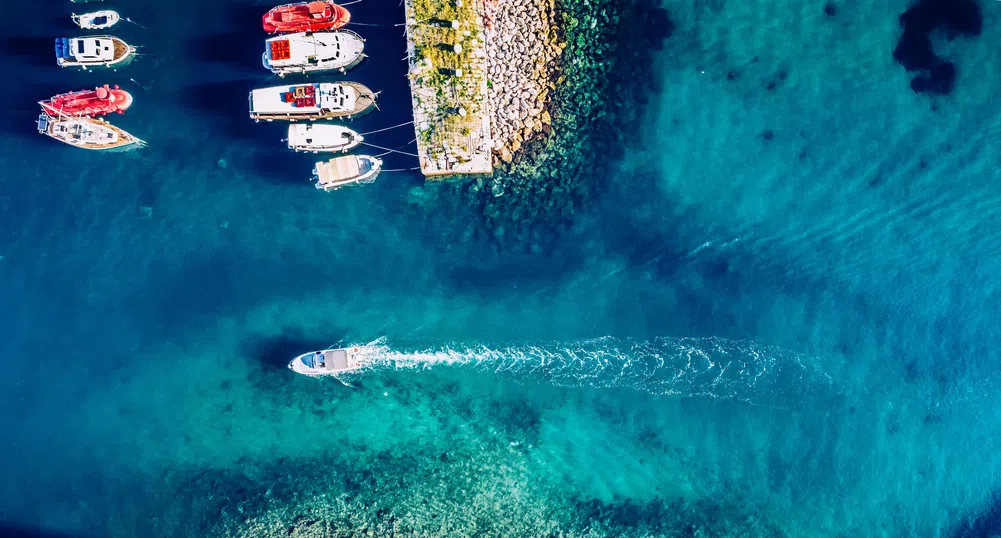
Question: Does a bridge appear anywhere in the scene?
No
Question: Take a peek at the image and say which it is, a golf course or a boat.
boat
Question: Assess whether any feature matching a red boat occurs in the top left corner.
Yes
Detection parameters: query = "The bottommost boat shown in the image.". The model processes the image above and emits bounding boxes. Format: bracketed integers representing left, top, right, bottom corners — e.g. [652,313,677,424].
[286,347,366,375]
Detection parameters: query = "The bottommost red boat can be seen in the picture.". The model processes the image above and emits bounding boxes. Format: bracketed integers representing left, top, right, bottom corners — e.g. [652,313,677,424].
[38,84,136,117]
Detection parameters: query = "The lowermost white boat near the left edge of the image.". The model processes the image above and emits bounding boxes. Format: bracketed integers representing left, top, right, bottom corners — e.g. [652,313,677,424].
[35,102,149,150]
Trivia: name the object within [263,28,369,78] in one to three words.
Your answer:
boat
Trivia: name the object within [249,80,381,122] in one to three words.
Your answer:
boat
